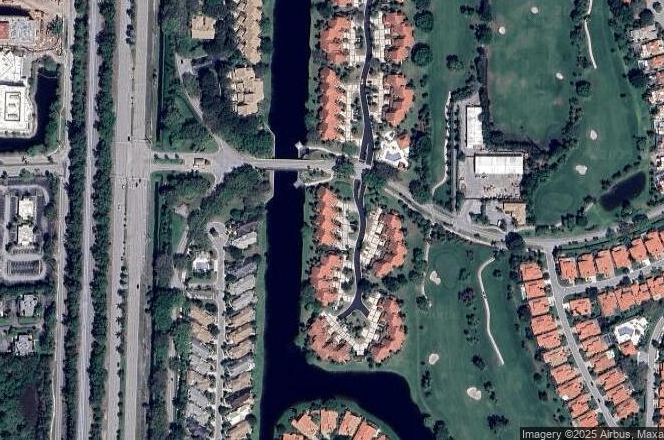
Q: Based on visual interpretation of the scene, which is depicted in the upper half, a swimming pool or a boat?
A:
swimming pool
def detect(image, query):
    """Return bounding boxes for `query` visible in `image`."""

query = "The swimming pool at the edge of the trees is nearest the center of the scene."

[379,132,409,169]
